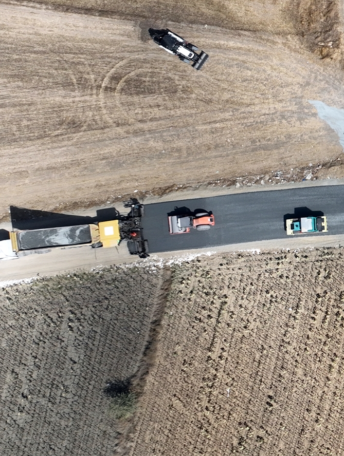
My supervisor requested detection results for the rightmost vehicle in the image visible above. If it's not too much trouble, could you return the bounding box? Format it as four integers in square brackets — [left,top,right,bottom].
[286,216,329,236]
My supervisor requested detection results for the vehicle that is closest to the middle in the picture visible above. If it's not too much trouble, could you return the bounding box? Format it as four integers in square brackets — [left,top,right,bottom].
[170,212,218,234]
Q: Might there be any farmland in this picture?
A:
Yes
